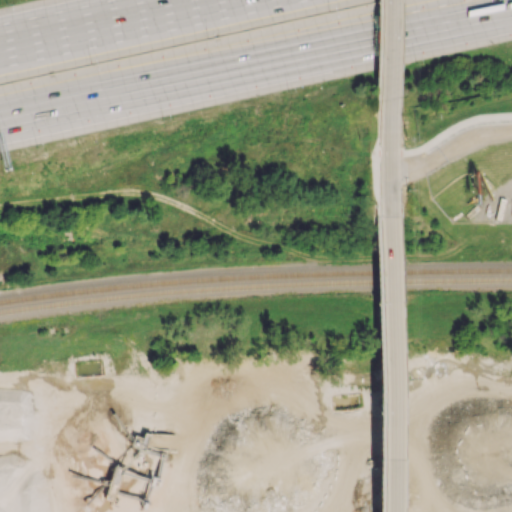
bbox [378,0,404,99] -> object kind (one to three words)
bridge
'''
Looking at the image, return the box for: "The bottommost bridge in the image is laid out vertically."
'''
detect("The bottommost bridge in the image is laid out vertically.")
[378,218,408,512]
